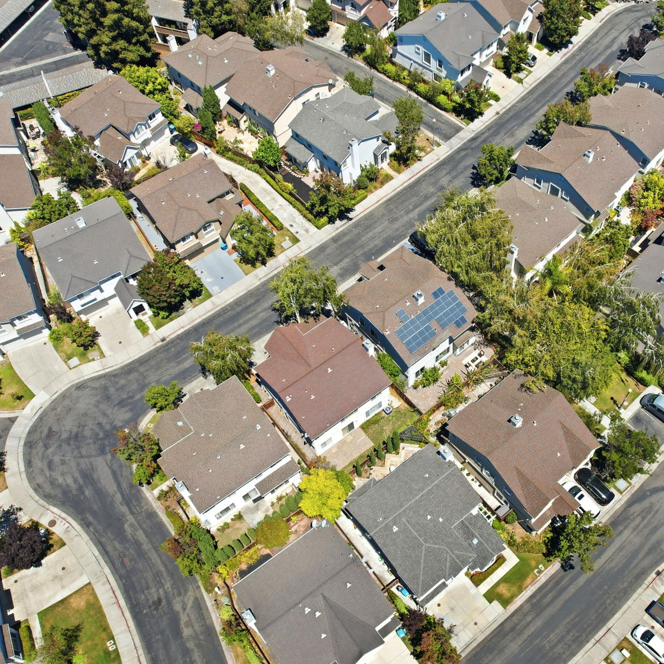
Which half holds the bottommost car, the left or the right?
right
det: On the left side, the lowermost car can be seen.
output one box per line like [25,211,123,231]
[168,134,198,153]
